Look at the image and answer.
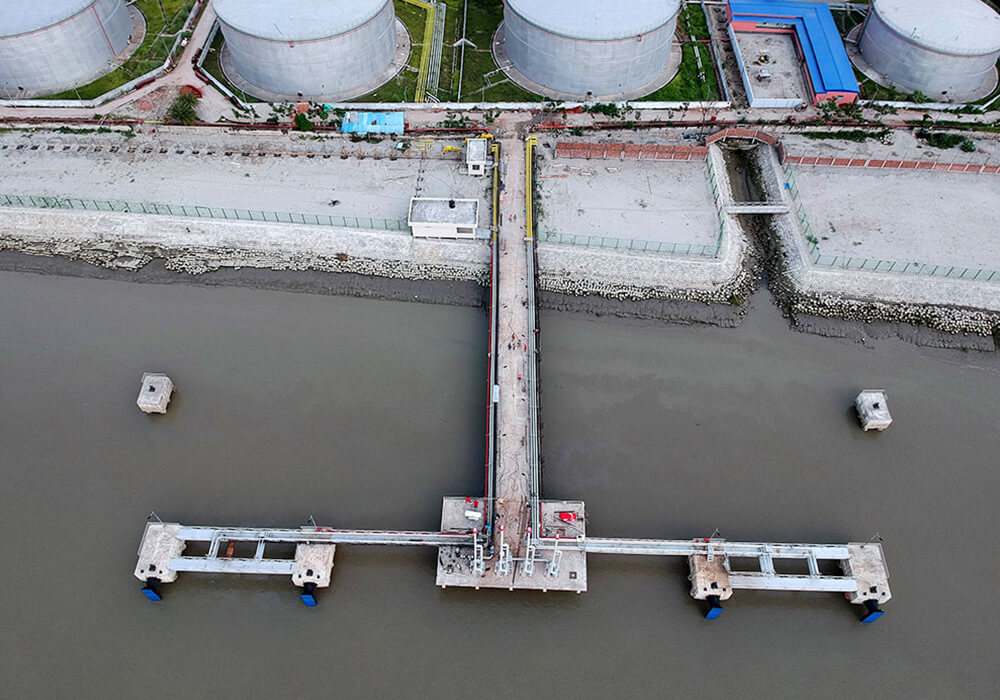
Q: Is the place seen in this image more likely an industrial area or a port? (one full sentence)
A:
What you see here is an industrial area.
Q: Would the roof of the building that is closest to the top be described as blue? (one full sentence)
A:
Yes, the roof of the building that is closest to the top is indeed blue.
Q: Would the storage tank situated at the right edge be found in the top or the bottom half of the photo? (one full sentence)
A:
The storage tank situated at the right edge sits in the top half of the picture.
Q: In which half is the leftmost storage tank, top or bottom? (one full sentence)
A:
The leftmost storage tank sits in the top half of the picture.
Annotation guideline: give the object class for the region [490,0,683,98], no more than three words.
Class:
storage tank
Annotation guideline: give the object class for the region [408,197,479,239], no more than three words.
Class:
building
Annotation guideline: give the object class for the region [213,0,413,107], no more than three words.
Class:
storage tank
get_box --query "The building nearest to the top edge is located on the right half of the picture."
[726,0,857,104]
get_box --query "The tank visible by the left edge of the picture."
[0,0,147,98]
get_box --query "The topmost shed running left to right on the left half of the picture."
[342,112,404,138]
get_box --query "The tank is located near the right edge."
[844,0,1000,103]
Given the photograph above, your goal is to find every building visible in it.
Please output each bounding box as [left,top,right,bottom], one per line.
[342,112,404,138]
[408,197,479,239]
[726,0,857,104]
[466,137,487,175]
